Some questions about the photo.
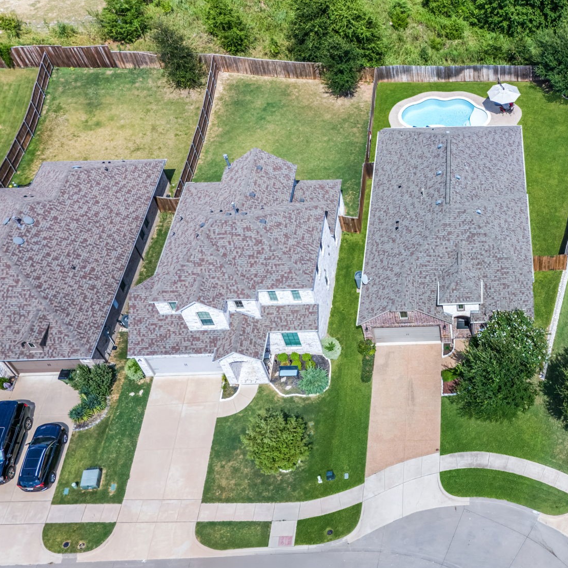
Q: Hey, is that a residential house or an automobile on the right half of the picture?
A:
residential house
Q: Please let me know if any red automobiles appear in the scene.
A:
No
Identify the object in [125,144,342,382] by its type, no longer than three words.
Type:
house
